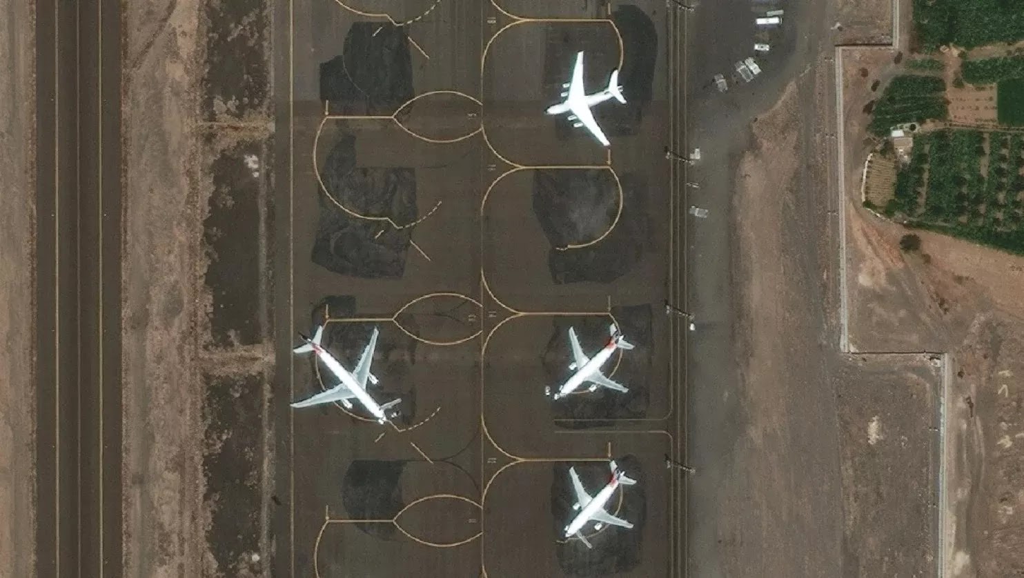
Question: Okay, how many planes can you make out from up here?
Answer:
4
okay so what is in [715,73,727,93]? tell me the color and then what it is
gray vehicle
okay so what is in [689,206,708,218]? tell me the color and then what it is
gray vehicle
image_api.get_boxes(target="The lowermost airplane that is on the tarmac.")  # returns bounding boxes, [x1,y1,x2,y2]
[564,462,634,537]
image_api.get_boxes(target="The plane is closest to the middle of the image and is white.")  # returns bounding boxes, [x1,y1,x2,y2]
[558,325,633,396]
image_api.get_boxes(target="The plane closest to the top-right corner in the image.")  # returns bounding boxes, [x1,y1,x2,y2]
[545,51,626,145]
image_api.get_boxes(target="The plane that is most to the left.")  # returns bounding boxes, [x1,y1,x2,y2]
[290,326,385,418]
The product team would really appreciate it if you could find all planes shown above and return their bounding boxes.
[290,326,385,418]
[564,462,634,537]
[558,325,633,396]
[545,51,626,145]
